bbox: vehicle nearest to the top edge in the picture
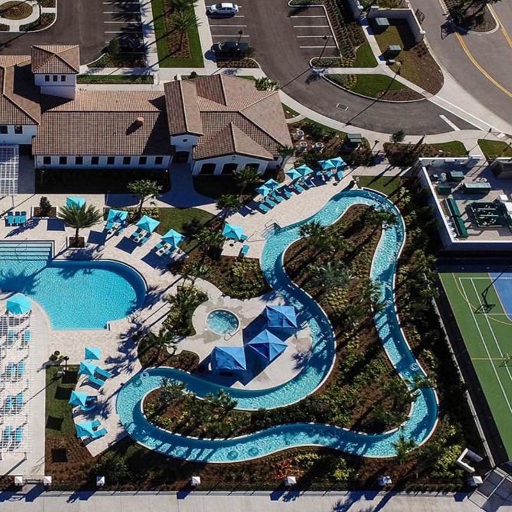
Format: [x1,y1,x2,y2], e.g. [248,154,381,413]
[208,2,240,16]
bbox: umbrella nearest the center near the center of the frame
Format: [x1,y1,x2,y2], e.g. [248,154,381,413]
[225,224,243,242]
